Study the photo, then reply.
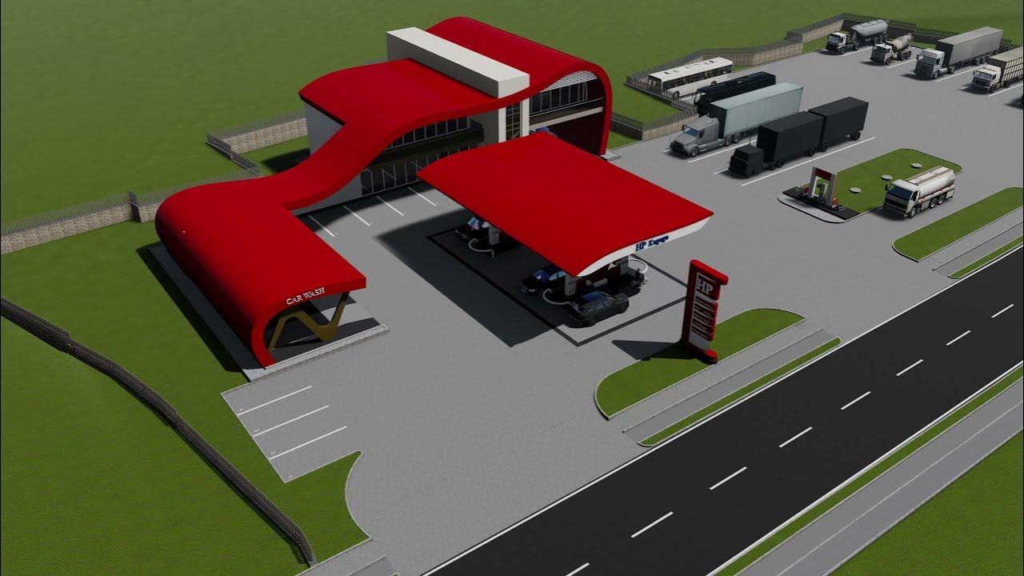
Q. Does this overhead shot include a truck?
Yes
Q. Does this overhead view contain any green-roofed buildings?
No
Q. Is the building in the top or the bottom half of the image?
top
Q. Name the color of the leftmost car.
black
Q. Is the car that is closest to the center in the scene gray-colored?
No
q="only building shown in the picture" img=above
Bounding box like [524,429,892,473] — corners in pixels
[153,17,623,382]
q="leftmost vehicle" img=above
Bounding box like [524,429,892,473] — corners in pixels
[453,212,489,238]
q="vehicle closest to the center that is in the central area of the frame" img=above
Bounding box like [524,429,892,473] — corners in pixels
[519,262,565,295]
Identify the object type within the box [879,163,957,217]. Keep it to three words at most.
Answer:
truck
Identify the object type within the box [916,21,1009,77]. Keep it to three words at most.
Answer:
truck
